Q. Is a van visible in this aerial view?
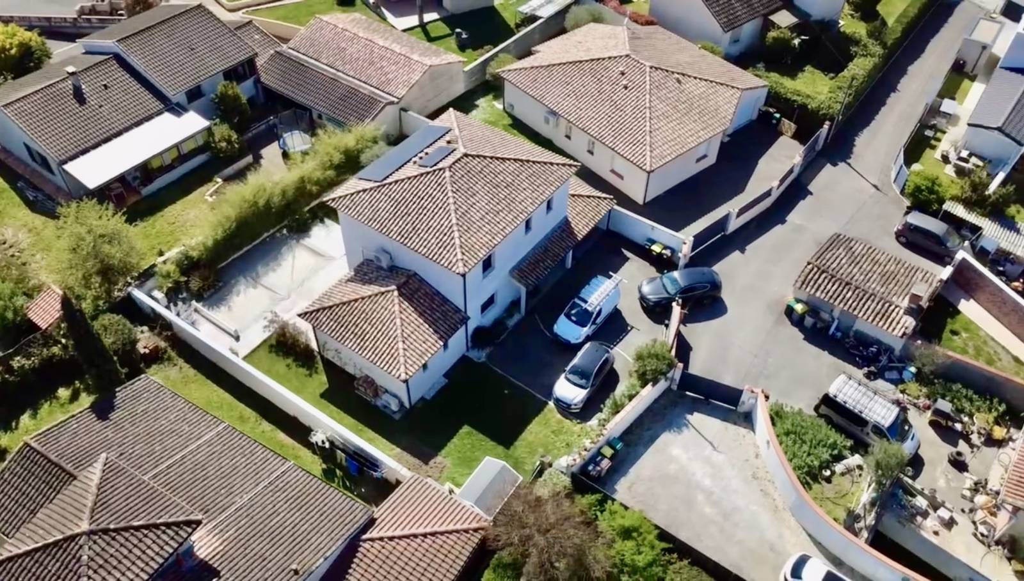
Yes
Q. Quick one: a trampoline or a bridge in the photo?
trampoline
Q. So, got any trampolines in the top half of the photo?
Yes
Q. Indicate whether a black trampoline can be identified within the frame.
No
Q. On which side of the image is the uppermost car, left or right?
right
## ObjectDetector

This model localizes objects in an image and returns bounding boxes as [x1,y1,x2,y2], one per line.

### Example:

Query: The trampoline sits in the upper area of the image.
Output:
[270,108,313,155]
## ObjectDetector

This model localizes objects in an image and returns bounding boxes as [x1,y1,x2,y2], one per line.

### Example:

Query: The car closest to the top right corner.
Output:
[893,212,962,255]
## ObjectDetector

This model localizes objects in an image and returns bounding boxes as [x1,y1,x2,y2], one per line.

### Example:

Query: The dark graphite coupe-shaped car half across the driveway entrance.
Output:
[636,270,722,313]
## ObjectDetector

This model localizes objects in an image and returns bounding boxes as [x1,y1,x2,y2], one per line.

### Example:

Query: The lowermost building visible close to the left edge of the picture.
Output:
[0,373,373,581]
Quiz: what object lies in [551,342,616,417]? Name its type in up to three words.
car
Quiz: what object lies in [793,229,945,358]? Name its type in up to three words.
shed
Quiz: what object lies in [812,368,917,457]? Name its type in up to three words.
van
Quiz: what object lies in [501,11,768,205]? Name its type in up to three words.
house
